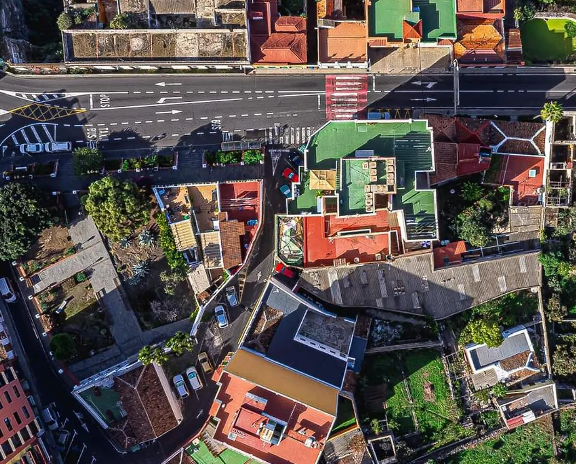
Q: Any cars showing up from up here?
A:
Yes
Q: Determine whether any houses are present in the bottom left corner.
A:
Yes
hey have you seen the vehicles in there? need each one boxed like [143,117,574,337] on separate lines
[20,142,43,153]
[225,284,238,307]
[175,373,189,395]
[274,262,297,279]
[187,364,203,390]
[45,141,72,152]
[368,109,390,119]
[0,276,18,304]
[277,180,294,198]
[280,163,299,184]
[216,304,229,328]
[287,147,305,167]
[198,351,215,375]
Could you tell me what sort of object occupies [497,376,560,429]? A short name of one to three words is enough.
house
